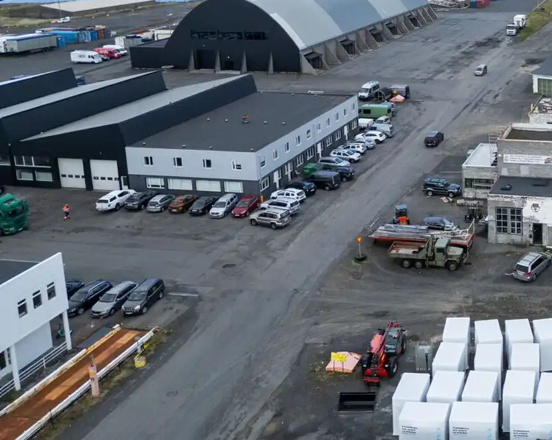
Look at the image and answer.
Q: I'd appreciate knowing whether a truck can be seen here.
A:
Yes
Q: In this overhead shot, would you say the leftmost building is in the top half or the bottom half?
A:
bottom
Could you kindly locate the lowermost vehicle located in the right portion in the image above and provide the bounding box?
[363,318,409,386]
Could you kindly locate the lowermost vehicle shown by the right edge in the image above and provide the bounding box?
[510,250,552,282]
